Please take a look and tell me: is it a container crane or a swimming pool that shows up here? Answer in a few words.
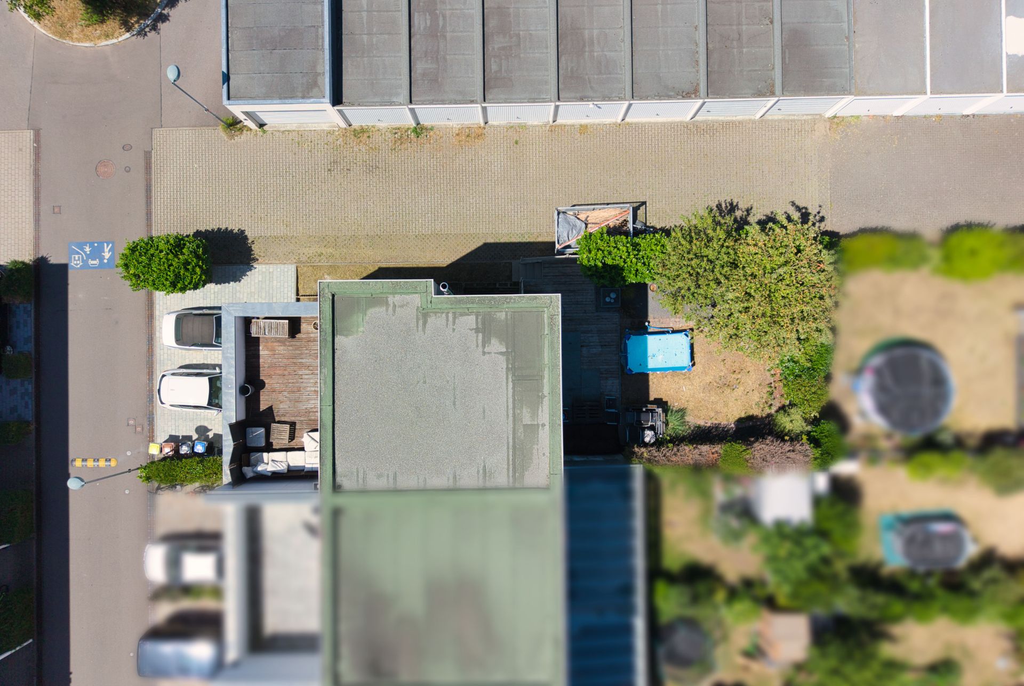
swimming pool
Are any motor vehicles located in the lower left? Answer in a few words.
Yes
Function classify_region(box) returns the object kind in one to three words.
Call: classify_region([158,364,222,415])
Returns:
car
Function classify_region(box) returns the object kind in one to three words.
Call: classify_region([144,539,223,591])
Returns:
car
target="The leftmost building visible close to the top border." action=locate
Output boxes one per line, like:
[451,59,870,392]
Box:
[223,0,353,133]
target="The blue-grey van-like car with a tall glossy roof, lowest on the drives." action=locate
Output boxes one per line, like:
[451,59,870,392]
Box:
[130,628,223,686]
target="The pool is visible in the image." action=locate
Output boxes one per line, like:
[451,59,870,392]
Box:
[619,326,694,376]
